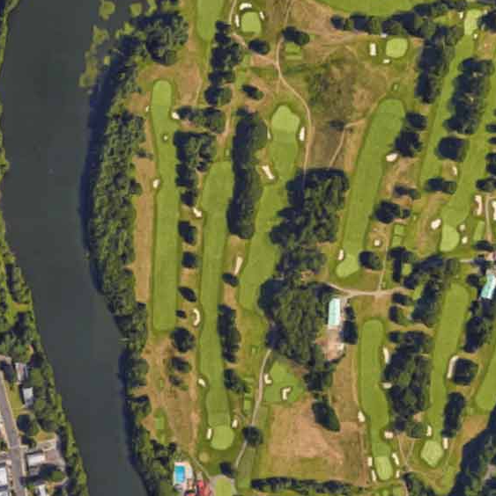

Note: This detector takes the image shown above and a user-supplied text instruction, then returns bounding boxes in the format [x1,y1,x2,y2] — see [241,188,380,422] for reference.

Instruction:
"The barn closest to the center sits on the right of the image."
[327,297,342,328]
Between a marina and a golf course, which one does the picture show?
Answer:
golf course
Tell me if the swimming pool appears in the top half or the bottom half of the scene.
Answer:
bottom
